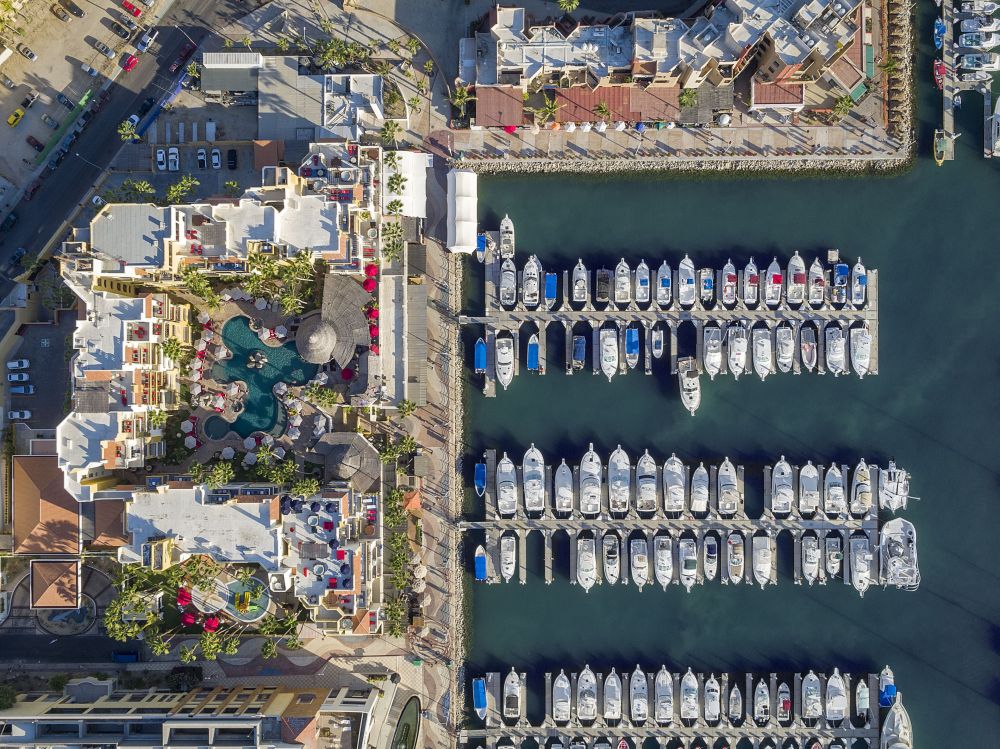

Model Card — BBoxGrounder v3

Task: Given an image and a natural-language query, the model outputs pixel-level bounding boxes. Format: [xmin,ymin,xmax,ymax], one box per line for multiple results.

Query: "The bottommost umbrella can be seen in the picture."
[388,671,402,686]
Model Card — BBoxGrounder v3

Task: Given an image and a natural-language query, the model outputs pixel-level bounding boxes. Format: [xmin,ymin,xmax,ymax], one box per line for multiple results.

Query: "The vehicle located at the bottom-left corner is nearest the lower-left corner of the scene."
[109,649,142,664]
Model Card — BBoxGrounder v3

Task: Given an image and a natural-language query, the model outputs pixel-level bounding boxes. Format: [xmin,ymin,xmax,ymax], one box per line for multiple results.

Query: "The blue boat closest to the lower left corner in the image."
[473,675,486,720]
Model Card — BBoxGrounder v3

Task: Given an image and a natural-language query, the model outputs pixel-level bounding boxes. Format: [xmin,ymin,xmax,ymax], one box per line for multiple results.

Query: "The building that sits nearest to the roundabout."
[30,554,95,608]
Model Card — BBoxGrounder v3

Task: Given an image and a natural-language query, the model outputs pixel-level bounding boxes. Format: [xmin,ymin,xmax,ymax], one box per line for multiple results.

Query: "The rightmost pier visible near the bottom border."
[485,672,883,749]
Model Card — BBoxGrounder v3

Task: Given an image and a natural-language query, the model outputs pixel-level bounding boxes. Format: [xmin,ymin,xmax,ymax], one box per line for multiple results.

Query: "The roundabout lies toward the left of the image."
[36,596,97,638]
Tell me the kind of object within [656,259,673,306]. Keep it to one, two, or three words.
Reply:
boat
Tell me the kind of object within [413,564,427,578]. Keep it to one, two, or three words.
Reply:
umbrella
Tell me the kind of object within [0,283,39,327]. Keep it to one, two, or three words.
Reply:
building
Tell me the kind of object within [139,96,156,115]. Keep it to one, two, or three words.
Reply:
car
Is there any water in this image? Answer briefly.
Yes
